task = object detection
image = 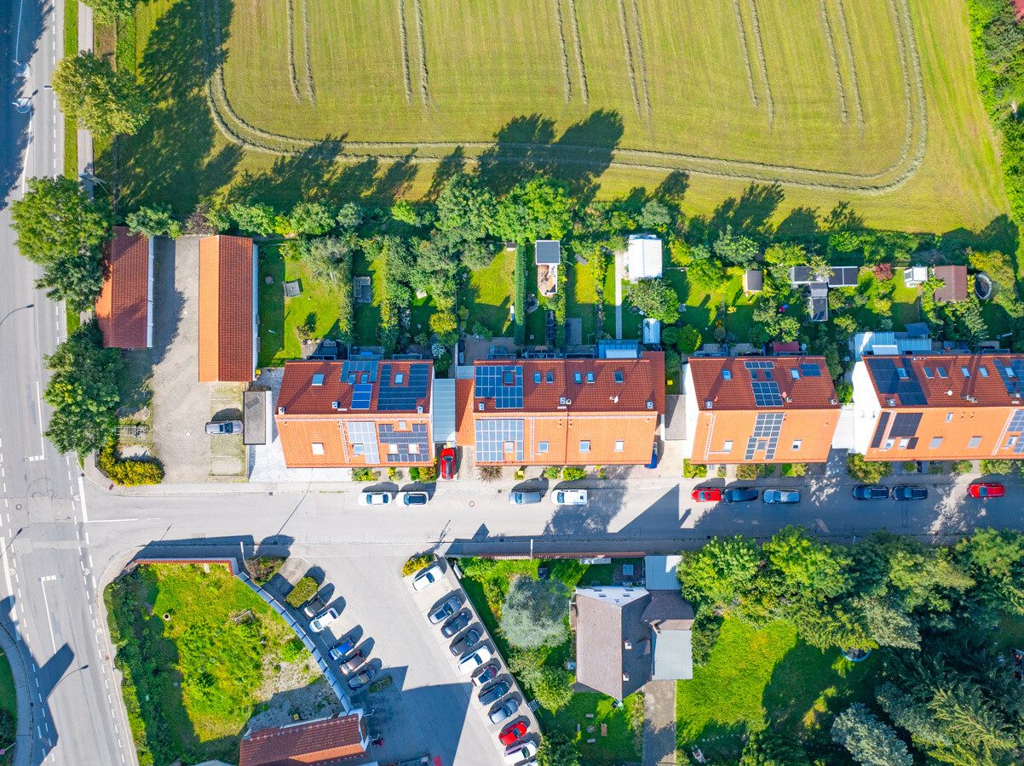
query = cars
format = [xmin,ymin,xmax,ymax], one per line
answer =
[722,487,758,504]
[690,487,721,503]
[470,661,501,690]
[358,490,394,507]
[339,649,368,676]
[889,485,927,501]
[207,420,244,436]
[440,611,473,638]
[644,441,660,472]
[762,488,799,505]
[449,627,482,657]
[477,677,511,708]
[458,645,492,675]
[439,447,455,480]
[504,737,537,766]
[309,605,341,631]
[329,636,358,661]
[397,490,430,507]
[412,565,445,591]
[488,697,520,726]
[306,593,330,615]
[850,484,888,501]
[347,662,379,691]
[498,718,529,748]
[509,489,542,505]
[428,595,462,623]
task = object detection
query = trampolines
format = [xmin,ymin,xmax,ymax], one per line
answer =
[968,275,1003,297]
[838,644,870,666]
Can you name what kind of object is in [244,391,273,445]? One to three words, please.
building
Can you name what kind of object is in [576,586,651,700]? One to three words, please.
house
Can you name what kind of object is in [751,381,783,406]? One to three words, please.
solar array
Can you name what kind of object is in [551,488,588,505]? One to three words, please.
vehicle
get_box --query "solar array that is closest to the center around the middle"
[475,365,523,407]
